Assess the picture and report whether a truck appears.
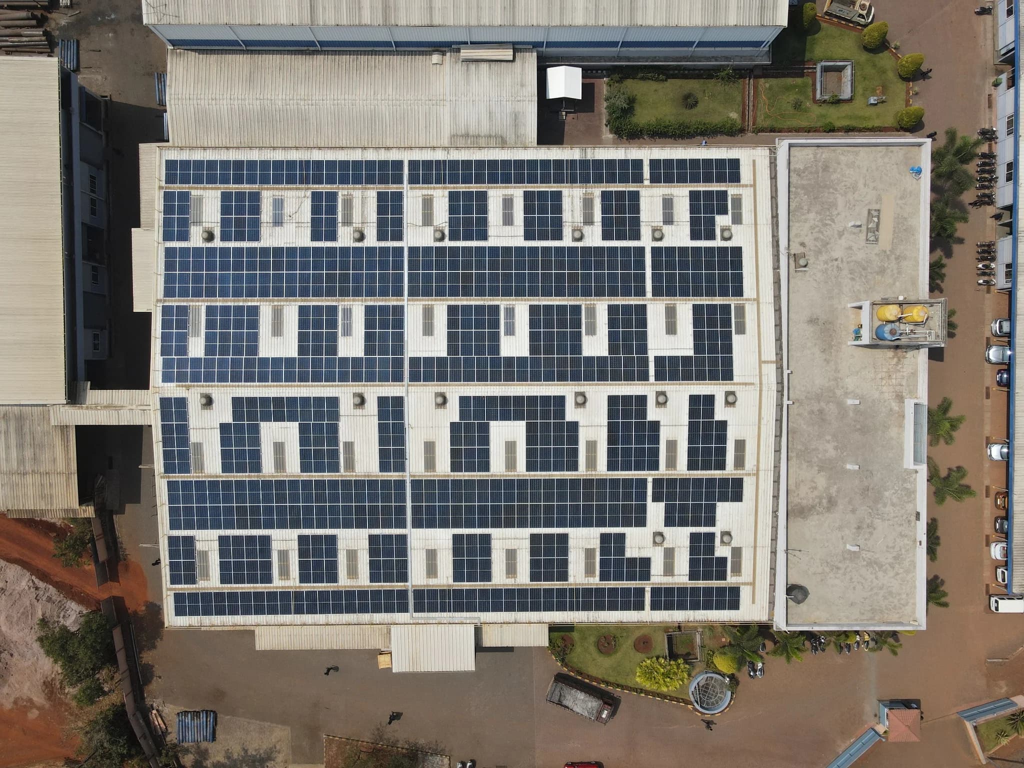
Yes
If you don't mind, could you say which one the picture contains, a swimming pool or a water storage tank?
water storage tank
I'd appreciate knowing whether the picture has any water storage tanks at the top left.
No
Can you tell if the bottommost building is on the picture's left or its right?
right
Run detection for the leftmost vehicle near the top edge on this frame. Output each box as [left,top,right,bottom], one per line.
[826,0,875,26]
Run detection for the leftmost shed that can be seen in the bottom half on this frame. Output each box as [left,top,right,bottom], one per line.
[0,407,120,518]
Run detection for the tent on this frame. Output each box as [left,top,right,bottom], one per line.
[546,63,581,109]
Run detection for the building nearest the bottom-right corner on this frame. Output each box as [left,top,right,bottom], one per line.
[876,699,922,748]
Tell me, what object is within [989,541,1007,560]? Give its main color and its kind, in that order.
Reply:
white car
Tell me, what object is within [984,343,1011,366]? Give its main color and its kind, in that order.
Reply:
gray car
